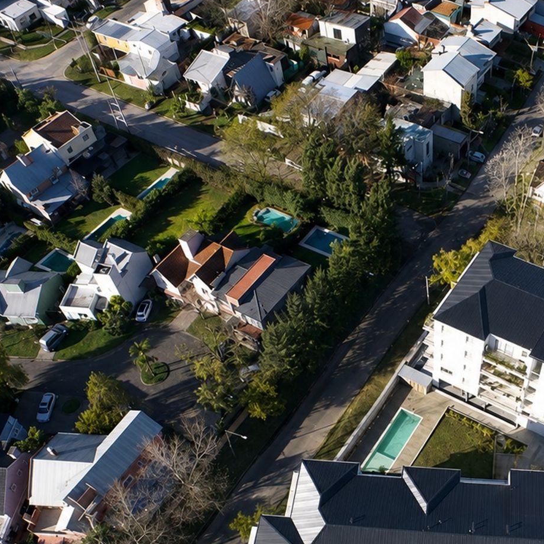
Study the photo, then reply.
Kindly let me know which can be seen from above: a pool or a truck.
pool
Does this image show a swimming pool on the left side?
Yes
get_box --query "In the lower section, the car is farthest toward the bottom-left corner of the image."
[37,394,57,420]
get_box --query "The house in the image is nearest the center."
[144,231,310,348]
